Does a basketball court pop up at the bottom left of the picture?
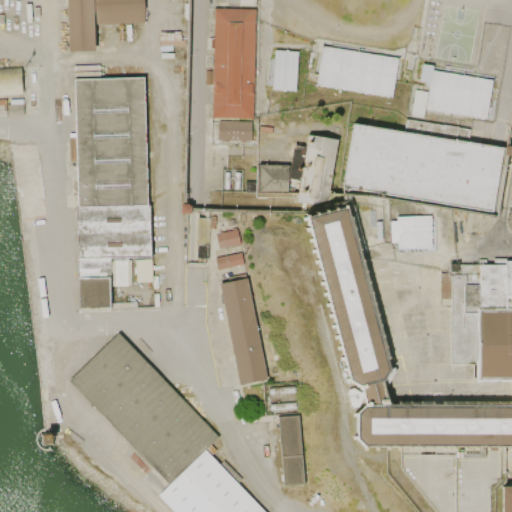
No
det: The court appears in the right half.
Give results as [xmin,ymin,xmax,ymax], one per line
[437,6,480,64]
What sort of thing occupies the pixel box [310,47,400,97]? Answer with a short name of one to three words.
building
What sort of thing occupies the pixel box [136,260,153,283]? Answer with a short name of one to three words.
shed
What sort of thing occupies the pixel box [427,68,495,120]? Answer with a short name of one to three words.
building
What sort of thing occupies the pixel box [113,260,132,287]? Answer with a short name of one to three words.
shed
